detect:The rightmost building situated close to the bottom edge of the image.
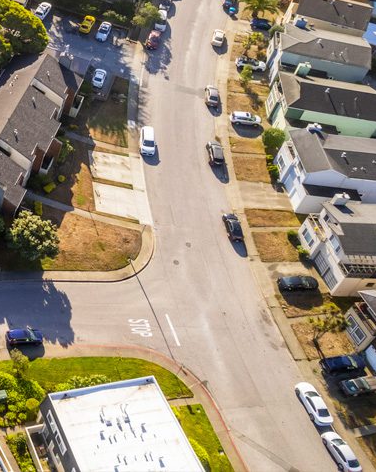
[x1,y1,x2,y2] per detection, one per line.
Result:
[41,376,198,472]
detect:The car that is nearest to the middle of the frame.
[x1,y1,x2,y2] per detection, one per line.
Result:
[221,213,246,243]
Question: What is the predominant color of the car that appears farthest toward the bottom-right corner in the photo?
white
